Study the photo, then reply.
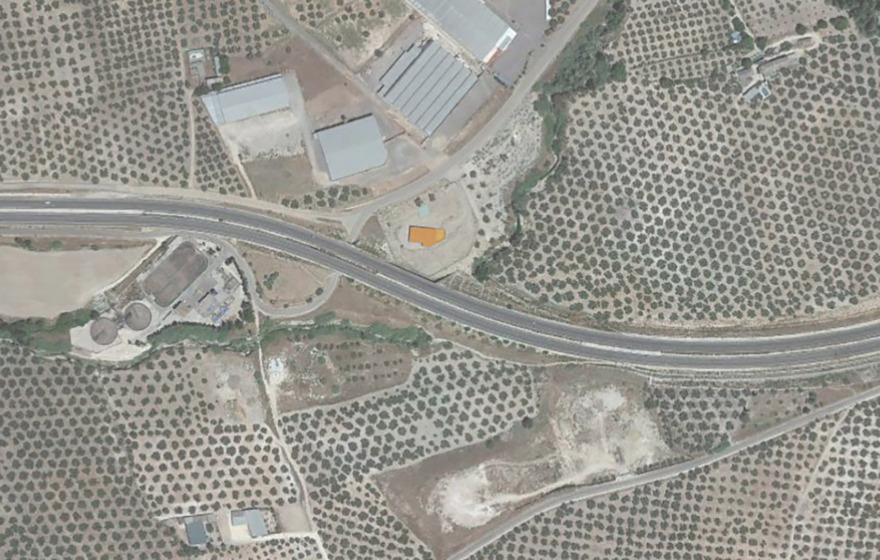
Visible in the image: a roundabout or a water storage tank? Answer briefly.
water storage tank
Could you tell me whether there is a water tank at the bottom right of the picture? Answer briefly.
No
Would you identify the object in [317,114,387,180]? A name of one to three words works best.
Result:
building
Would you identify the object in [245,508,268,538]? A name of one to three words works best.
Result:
house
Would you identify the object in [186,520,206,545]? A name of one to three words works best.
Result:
shed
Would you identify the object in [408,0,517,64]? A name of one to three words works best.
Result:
building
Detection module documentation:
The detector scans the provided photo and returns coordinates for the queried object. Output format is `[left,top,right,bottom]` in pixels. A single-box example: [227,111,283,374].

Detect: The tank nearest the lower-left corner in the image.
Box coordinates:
[90,318,118,344]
